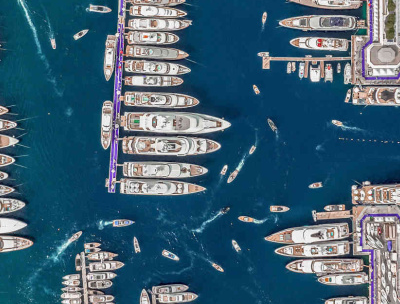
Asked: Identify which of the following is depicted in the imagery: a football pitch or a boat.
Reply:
boat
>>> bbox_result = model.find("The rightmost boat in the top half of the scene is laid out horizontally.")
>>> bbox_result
[350,84,400,104]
